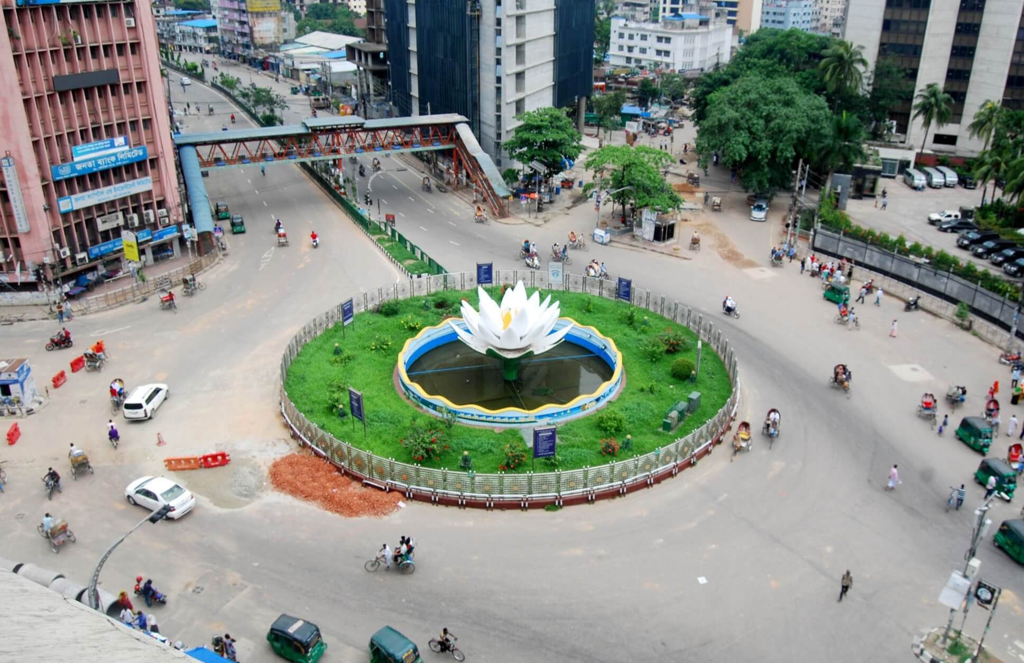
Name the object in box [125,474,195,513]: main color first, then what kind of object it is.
white car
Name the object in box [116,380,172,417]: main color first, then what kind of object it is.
white car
